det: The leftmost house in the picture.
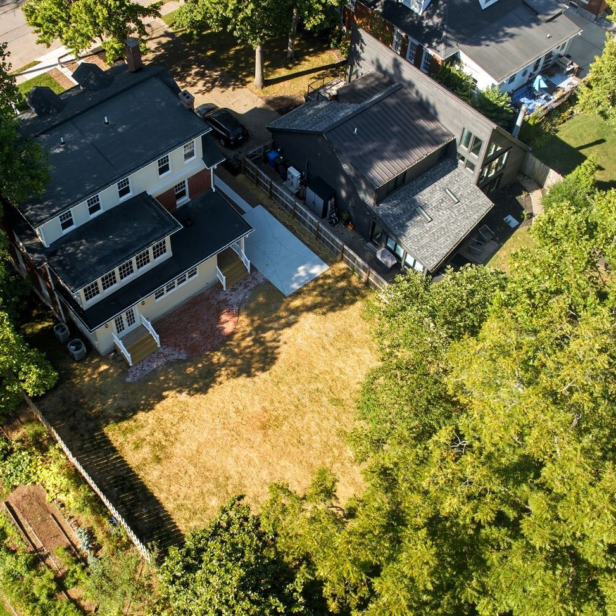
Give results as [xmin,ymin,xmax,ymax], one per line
[0,40,266,367]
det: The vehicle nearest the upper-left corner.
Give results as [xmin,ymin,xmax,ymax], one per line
[197,99,249,145]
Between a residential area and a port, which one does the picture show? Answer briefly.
residential area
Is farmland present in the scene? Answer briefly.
No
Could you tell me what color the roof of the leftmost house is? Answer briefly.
black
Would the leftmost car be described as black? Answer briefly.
Yes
